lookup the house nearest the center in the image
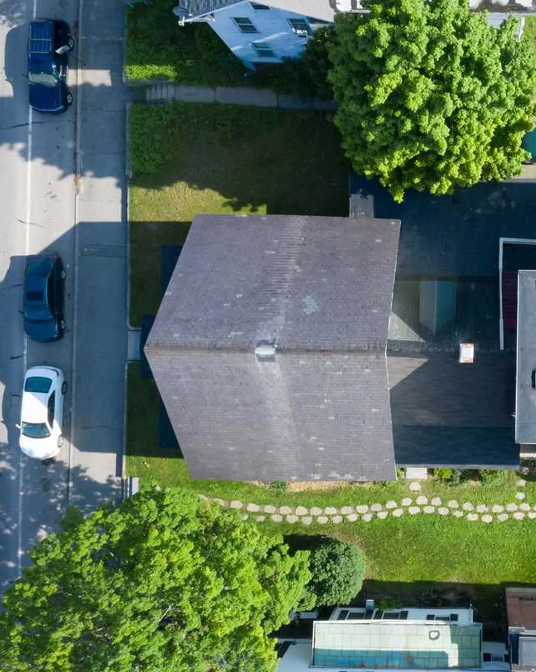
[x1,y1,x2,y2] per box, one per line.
[141,215,402,479]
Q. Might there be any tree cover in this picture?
Yes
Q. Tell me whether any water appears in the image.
No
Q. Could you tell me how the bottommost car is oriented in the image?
from top to bottom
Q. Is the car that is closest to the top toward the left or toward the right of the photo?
left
